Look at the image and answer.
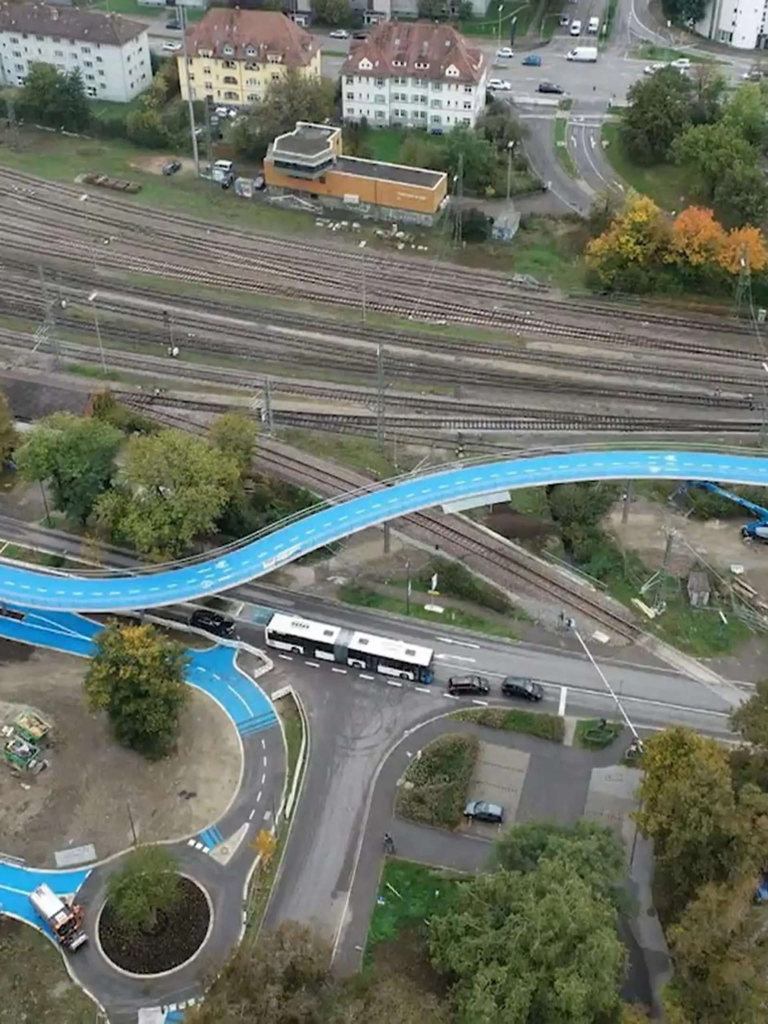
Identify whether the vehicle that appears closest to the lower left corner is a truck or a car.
truck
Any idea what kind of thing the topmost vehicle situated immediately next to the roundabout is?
bus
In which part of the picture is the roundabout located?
bottom left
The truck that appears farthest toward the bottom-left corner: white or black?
white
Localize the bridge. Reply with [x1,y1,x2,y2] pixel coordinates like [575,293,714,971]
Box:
[0,440,768,627]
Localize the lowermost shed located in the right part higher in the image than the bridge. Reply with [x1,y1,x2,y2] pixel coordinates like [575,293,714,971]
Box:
[493,205,527,242]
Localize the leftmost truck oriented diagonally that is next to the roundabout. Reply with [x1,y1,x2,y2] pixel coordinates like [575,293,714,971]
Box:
[27,879,87,955]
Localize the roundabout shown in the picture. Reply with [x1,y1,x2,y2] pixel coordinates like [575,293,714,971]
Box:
[60,718,286,1024]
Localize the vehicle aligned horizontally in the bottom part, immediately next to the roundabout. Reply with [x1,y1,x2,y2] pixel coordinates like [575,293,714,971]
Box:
[267,615,442,685]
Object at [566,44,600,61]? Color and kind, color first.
white vehicle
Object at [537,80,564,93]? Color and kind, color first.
gray vehicle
